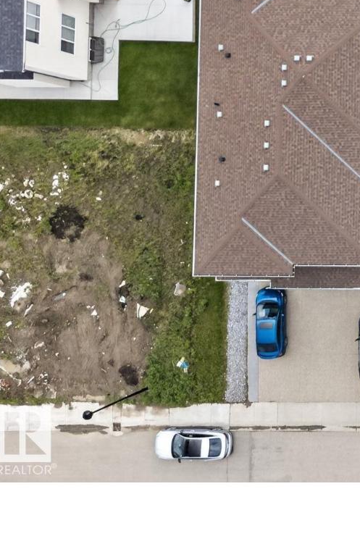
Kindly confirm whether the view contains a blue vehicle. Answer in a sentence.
Yes, there is a blue vehicle in the image.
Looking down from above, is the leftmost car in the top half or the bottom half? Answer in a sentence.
The leftmost car is in the bottom half of the image.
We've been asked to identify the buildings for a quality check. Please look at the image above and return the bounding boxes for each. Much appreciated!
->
[192,0,360,290]
[0,0,102,92]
